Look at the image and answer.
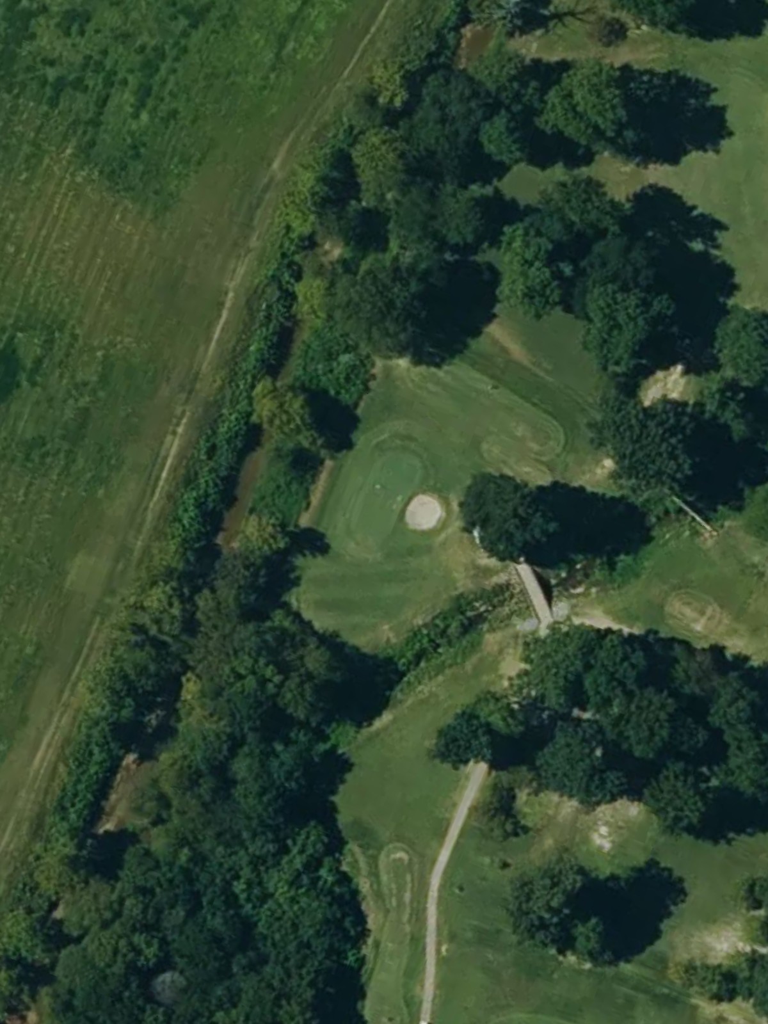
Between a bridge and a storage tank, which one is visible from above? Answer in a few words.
bridge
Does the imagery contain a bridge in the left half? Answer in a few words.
No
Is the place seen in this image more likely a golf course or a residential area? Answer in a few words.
golf course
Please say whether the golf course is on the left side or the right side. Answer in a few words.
right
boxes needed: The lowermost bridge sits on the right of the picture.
[513,552,552,625]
